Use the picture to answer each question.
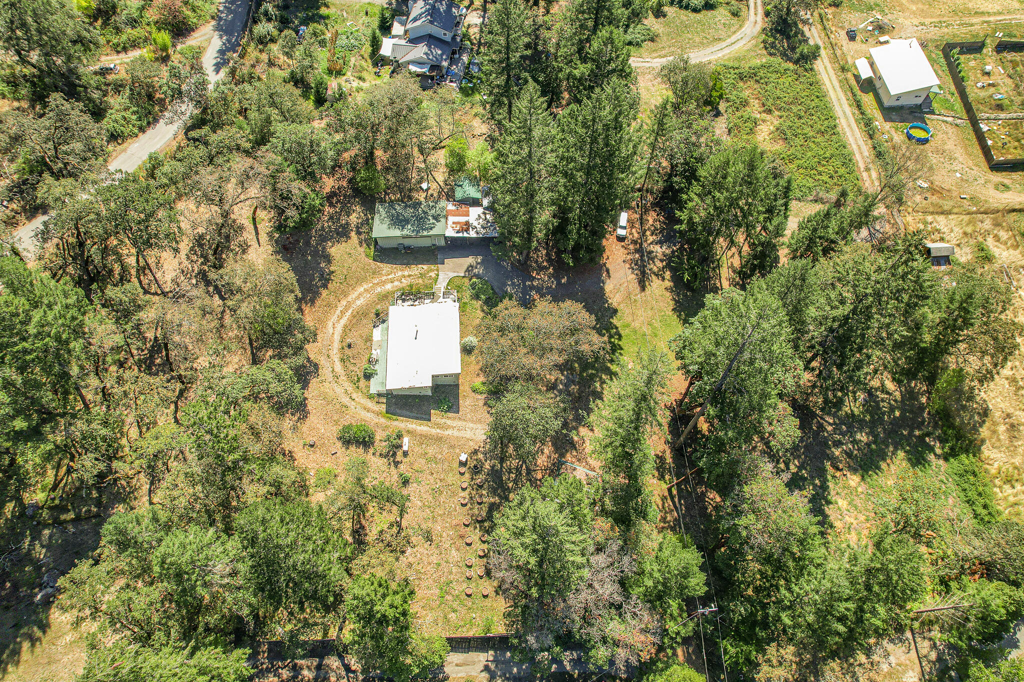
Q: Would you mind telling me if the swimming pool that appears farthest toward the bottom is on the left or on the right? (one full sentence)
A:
The swimming pool that appears farthest toward the bottom sits on the right side.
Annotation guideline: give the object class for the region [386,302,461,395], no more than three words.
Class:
house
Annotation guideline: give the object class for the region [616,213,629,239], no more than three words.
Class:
vehicle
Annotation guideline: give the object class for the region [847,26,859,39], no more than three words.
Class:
vehicle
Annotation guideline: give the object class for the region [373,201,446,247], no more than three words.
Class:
building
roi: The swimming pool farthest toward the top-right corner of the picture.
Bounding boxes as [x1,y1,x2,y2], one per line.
[905,120,937,145]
